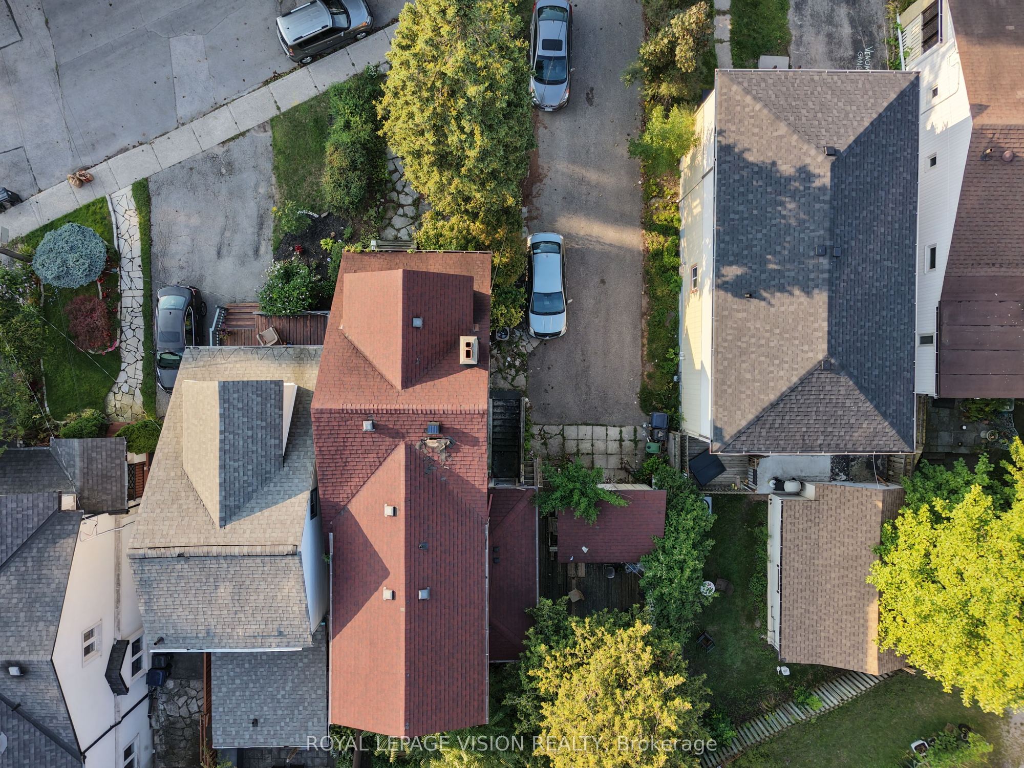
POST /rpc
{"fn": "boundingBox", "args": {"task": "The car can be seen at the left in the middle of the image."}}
[150,284,208,393]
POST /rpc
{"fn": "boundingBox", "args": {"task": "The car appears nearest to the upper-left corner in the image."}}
[271,0,375,66]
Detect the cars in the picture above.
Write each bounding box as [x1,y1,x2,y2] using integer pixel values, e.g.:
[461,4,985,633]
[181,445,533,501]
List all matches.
[271,0,375,66]
[525,233,572,340]
[150,284,208,393]
[529,0,577,109]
